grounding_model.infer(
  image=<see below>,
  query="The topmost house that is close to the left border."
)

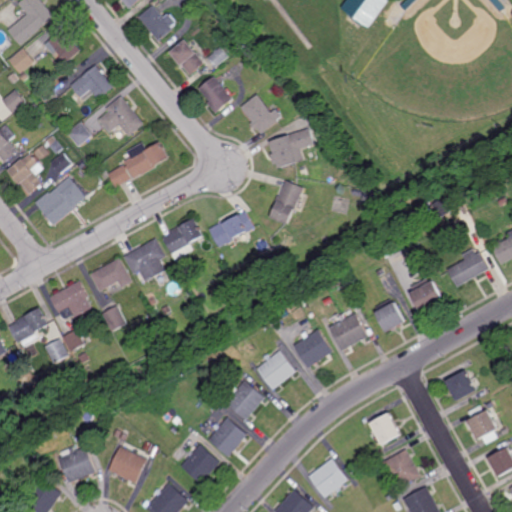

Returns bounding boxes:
[6,0,52,46]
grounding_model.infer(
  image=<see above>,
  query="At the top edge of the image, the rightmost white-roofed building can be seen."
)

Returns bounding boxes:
[340,0,390,29]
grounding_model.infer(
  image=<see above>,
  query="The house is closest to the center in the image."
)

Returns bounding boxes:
[210,211,256,245]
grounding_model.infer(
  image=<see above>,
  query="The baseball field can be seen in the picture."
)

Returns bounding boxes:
[358,0,512,121]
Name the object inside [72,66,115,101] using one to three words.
house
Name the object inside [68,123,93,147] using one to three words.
building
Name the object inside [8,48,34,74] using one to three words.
building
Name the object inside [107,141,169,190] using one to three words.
house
